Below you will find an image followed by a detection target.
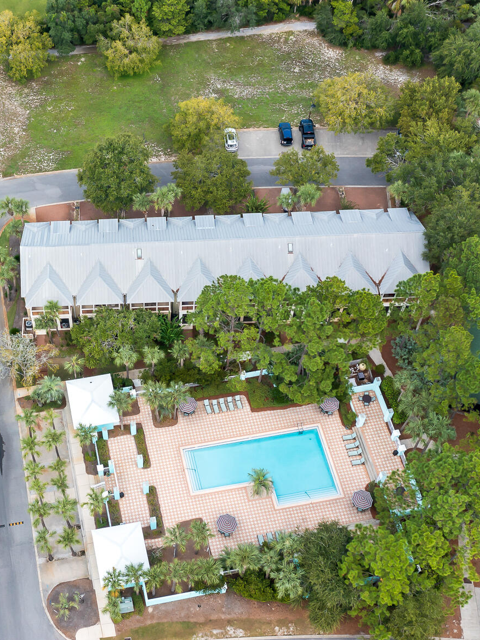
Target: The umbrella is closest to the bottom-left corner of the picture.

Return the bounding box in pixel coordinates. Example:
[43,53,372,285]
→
[216,513,239,535]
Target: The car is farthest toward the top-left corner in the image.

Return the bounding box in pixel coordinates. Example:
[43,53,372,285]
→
[224,130,239,152]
